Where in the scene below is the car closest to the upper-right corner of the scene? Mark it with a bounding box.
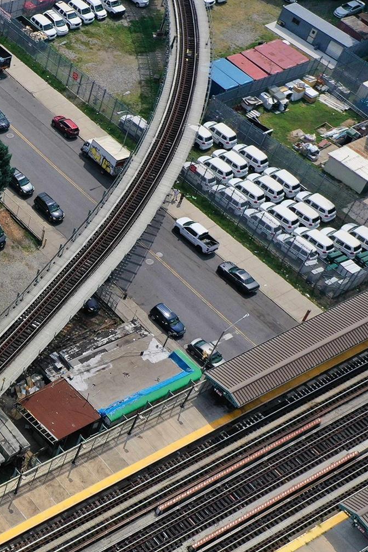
[334,1,366,19]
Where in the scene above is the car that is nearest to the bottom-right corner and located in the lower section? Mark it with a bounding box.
[183,338,222,372]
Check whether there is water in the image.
No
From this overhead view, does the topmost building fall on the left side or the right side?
right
